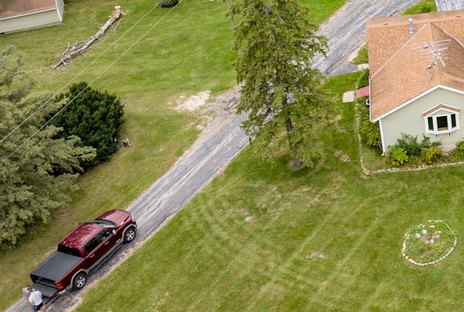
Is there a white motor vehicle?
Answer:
No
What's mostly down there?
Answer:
grass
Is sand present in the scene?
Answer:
No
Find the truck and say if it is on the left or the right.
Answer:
left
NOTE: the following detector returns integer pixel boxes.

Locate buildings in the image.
[0,0,64,32]
[365,10,464,157]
